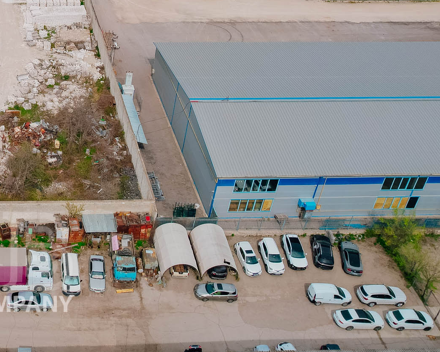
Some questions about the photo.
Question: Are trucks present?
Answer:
Yes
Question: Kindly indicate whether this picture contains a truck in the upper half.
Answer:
No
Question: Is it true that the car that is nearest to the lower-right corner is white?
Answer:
Yes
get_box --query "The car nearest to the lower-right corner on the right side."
[381,309,439,335]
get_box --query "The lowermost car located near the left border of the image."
[6,290,54,313]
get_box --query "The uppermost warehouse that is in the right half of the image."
[152,42,440,222]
